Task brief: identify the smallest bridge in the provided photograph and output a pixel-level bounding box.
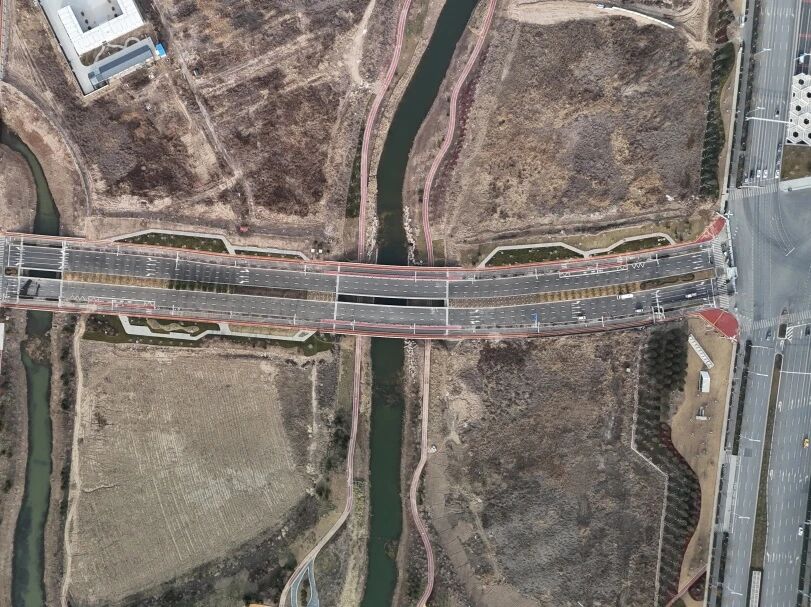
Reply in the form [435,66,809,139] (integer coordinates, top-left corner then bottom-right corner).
[19,232,63,308]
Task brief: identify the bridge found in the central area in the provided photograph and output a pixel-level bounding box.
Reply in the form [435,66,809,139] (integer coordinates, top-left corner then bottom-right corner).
[336,262,447,340]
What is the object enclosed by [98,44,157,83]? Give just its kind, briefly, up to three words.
shed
